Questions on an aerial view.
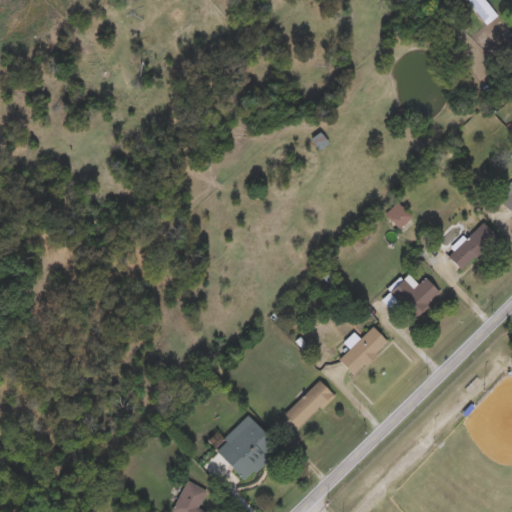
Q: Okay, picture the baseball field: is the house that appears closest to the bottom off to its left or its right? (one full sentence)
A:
Compared with the baseball field, the house that appears closest to the bottom is located further to the left.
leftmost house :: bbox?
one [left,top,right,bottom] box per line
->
[170,482,206,512]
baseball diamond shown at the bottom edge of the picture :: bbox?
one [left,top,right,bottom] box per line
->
[392,374,512,512]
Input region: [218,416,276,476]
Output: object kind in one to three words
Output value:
house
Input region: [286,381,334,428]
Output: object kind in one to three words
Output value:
house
